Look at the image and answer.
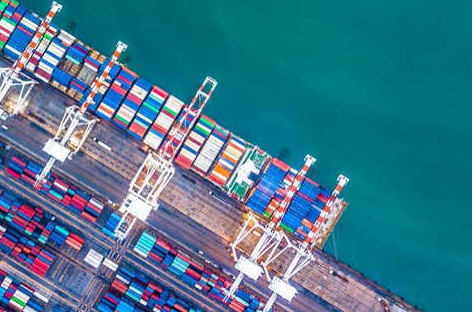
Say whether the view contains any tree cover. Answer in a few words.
No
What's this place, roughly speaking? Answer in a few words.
port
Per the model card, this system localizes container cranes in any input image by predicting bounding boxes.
[34,42,127,185]
[262,177,352,312]
[112,74,220,240]
[0,3,61,123]
[224,155,316,298]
